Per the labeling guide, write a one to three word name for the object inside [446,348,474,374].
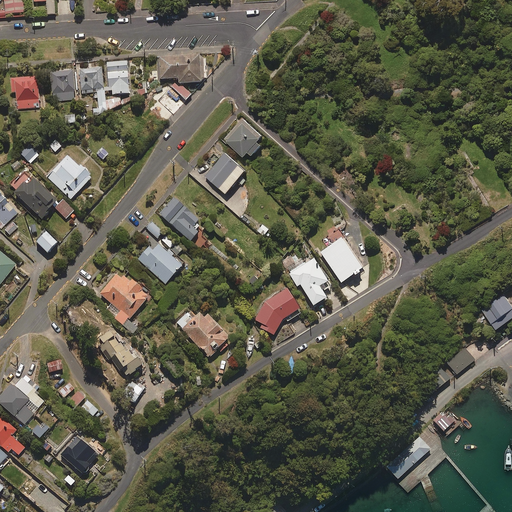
building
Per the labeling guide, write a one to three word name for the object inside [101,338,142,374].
house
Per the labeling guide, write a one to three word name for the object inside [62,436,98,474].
house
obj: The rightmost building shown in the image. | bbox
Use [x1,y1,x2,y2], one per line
[483,296,512,330]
